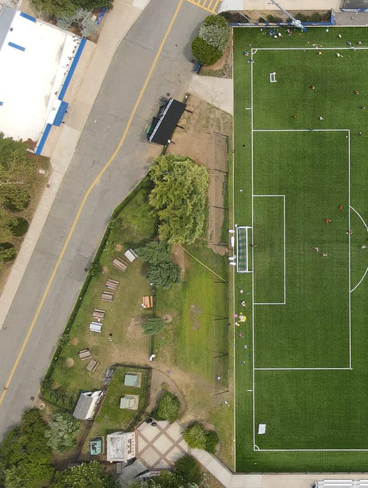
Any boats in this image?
No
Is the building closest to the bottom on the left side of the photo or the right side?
left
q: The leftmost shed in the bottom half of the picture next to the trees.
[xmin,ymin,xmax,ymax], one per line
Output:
[64,392,100,424]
